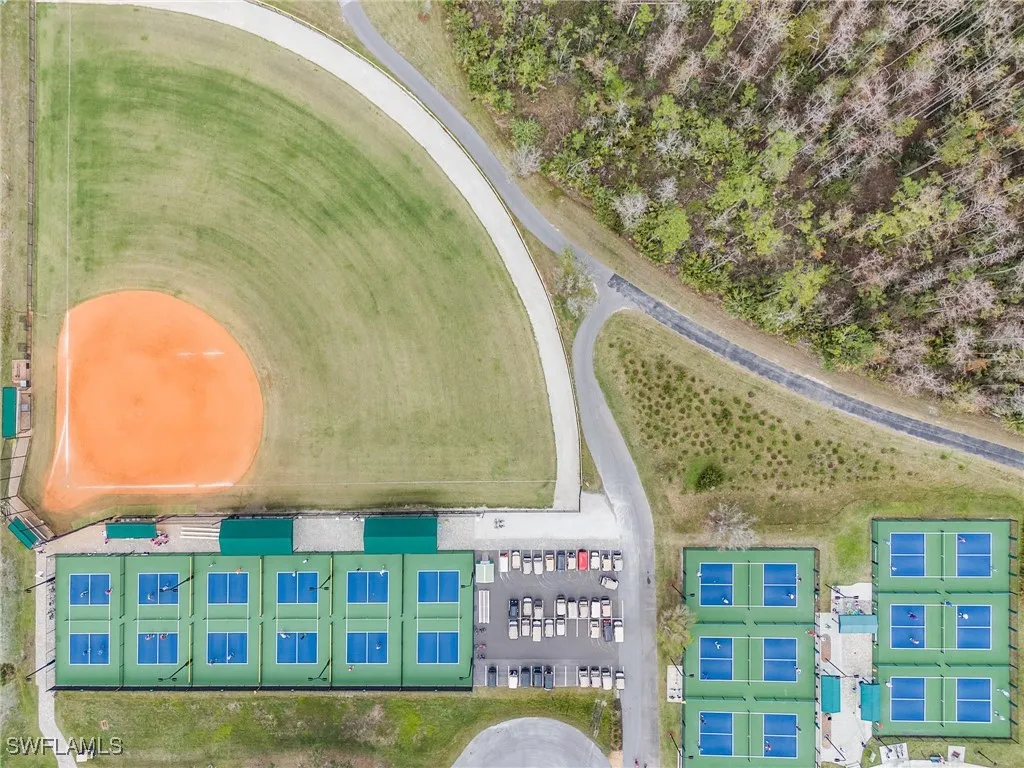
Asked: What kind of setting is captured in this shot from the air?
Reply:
sports ground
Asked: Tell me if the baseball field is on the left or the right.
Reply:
left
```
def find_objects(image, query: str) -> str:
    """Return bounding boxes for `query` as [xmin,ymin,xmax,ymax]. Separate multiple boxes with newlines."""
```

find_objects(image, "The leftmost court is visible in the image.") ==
[55,556,124,687]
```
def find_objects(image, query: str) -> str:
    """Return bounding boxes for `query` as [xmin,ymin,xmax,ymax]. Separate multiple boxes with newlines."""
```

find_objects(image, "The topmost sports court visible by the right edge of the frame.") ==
[879,521,1010,592]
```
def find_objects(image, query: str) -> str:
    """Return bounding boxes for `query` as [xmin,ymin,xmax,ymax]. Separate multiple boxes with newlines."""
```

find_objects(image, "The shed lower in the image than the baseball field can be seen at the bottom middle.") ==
[475,558,494,585]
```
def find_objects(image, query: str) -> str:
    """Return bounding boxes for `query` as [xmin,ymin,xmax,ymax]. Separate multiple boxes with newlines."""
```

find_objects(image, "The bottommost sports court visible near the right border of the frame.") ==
[879,666,1010,736]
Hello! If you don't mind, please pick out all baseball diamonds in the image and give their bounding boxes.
[19,0,585,537]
